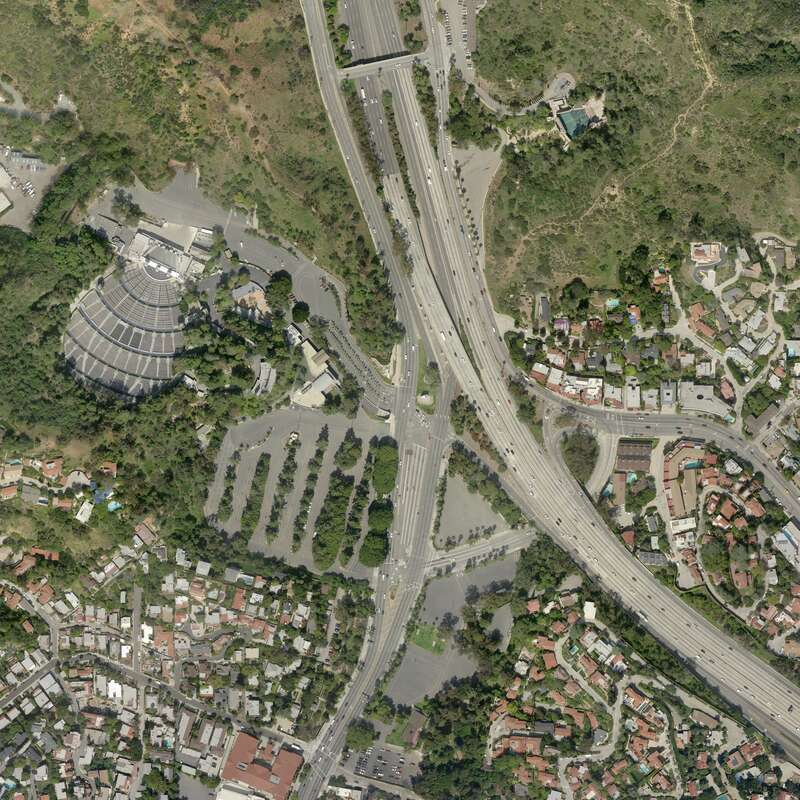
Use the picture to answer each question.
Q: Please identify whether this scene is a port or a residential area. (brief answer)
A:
residential area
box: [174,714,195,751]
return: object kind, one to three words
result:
shed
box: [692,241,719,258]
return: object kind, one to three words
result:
house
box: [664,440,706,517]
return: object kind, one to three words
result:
building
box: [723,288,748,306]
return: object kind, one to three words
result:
house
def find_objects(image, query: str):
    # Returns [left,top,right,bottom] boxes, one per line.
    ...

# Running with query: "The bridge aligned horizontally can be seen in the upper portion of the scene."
[333,47,435,79]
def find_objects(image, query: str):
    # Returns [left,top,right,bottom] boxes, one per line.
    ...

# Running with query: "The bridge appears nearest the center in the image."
[382,171,527,459]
